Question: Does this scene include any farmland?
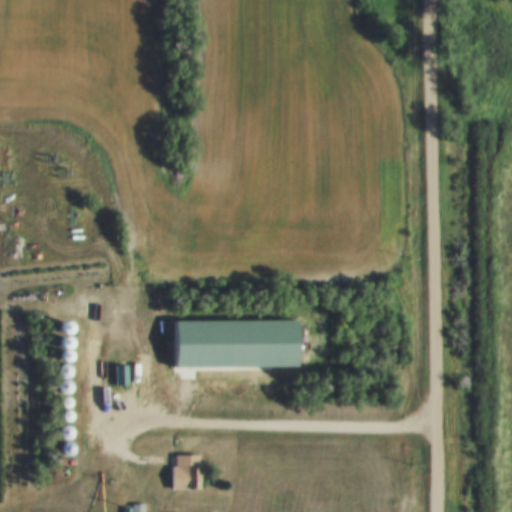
Yes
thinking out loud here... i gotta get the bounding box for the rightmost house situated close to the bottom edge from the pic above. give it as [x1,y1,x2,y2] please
[172,454,204,490]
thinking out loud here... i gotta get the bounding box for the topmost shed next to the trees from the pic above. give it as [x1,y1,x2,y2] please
[174,318,304,368]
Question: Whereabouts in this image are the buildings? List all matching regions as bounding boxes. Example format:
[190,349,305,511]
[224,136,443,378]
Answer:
[114,362,131,387]
[126,503,147,512]
[172,454,204,490]
[174,318,304,368]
